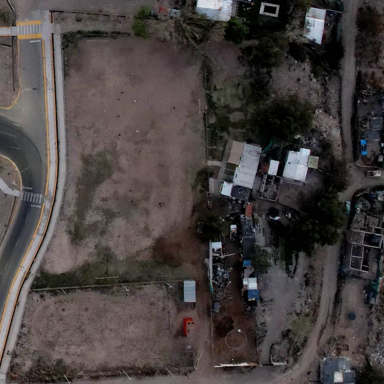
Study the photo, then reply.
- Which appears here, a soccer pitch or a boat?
soccer pitch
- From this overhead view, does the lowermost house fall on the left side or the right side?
right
